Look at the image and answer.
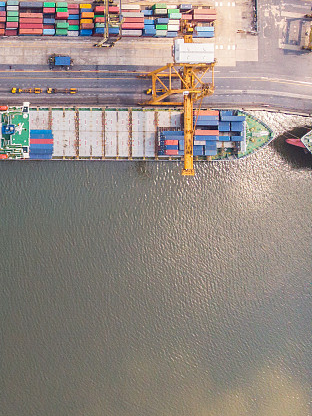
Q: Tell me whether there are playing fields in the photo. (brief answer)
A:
No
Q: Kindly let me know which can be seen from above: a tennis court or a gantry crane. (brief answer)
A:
gantry crane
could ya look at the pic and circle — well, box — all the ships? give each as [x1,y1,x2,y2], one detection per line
[0,102,274,163]
[286,126,312,153]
